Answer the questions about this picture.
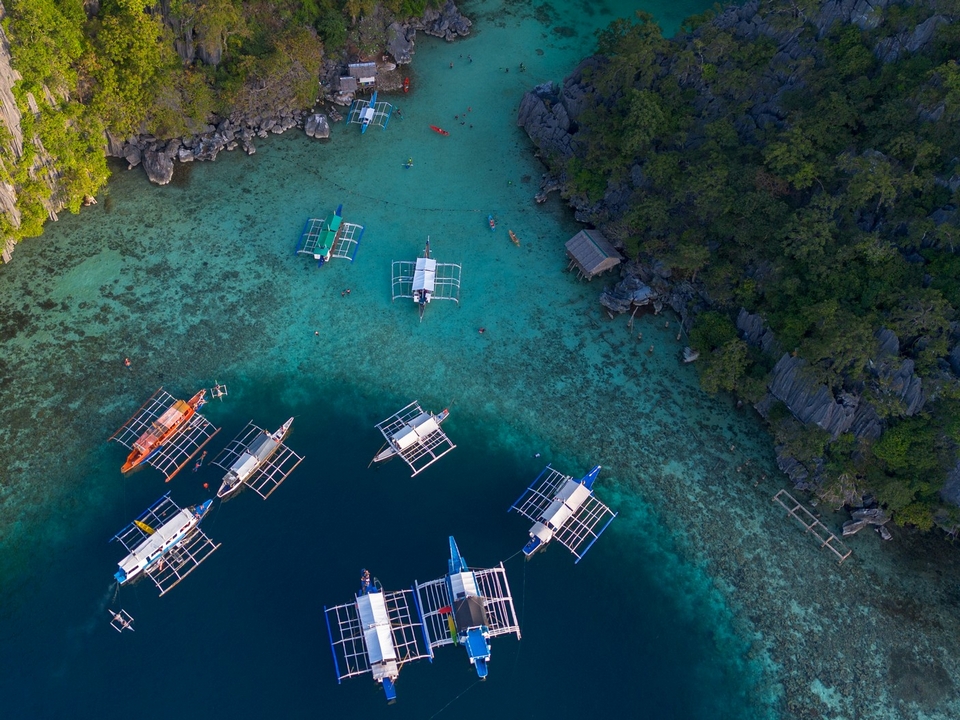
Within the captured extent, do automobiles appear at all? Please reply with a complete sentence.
No, no automobile can be seen from above.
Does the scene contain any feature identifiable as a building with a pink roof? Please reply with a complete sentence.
No, I can see no building with a pink roof in this picture.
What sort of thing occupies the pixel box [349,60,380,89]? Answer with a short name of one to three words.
shed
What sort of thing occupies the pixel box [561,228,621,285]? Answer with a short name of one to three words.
house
